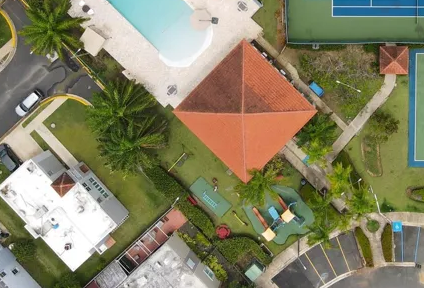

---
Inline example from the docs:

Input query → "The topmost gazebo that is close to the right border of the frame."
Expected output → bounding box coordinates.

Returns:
[378,46,409,74]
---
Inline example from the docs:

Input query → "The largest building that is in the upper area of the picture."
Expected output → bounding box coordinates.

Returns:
[173,39,316,181]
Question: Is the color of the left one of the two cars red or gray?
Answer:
gray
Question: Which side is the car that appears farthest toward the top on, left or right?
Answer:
left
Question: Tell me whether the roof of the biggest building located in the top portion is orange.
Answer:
Yes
